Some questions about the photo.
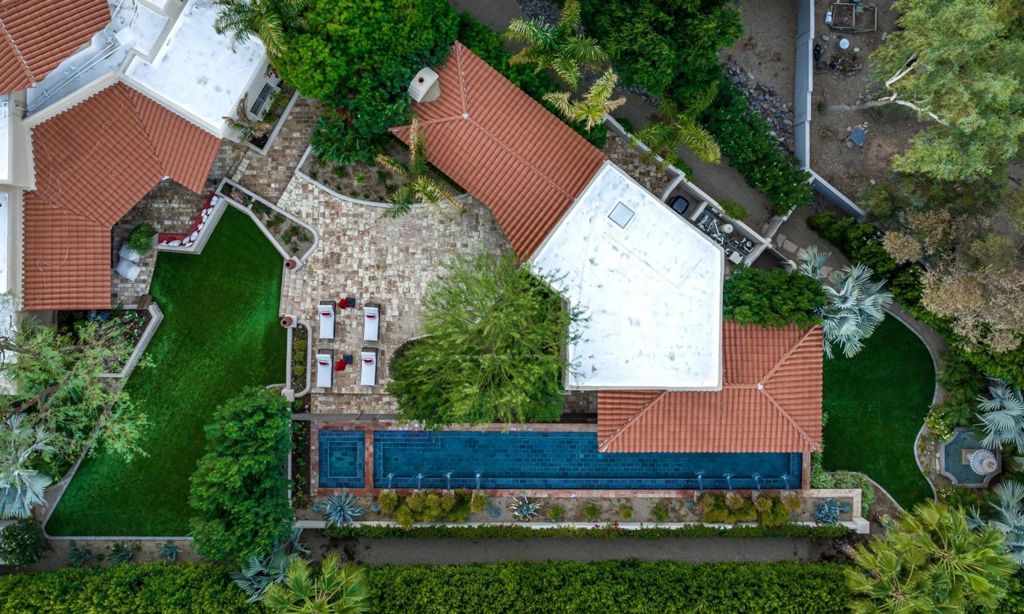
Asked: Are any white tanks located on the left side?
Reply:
No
